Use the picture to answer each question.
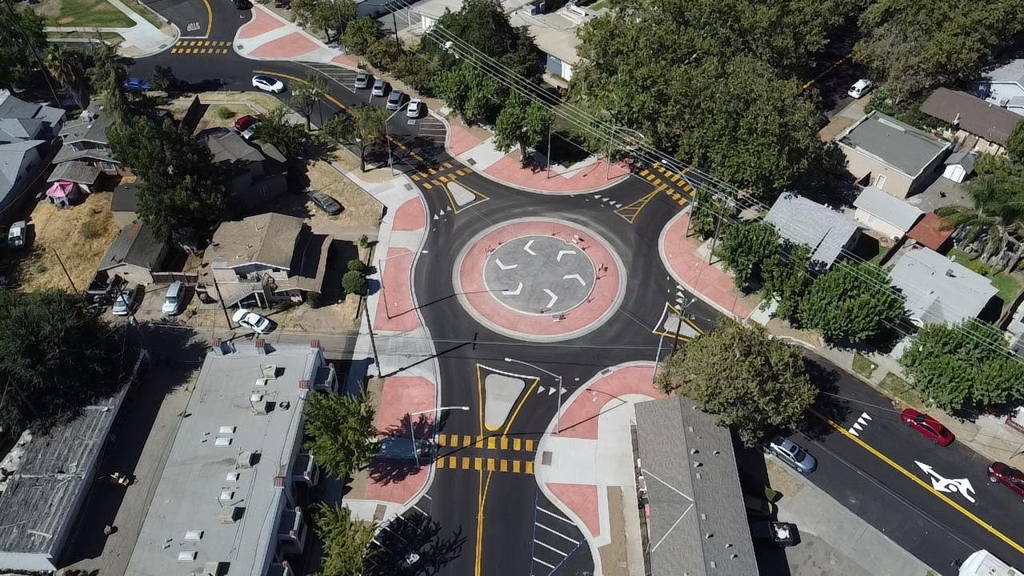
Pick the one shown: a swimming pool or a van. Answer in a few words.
van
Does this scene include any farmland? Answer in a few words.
No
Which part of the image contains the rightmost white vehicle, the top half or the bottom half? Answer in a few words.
bottom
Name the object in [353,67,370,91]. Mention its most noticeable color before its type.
gray car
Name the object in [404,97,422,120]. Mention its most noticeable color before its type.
white car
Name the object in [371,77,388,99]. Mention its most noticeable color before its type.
gray car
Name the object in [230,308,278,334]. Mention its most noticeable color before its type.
white car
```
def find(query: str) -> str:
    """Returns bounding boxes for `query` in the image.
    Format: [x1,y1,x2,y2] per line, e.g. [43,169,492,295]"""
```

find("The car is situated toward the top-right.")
[846,80,874,99]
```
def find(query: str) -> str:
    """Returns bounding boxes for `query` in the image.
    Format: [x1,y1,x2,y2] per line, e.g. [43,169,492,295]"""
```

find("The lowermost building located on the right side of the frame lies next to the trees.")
[634,396,762,576]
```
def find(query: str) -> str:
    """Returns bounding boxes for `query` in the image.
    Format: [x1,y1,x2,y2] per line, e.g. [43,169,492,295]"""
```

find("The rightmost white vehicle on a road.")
[956,550,1019,576]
